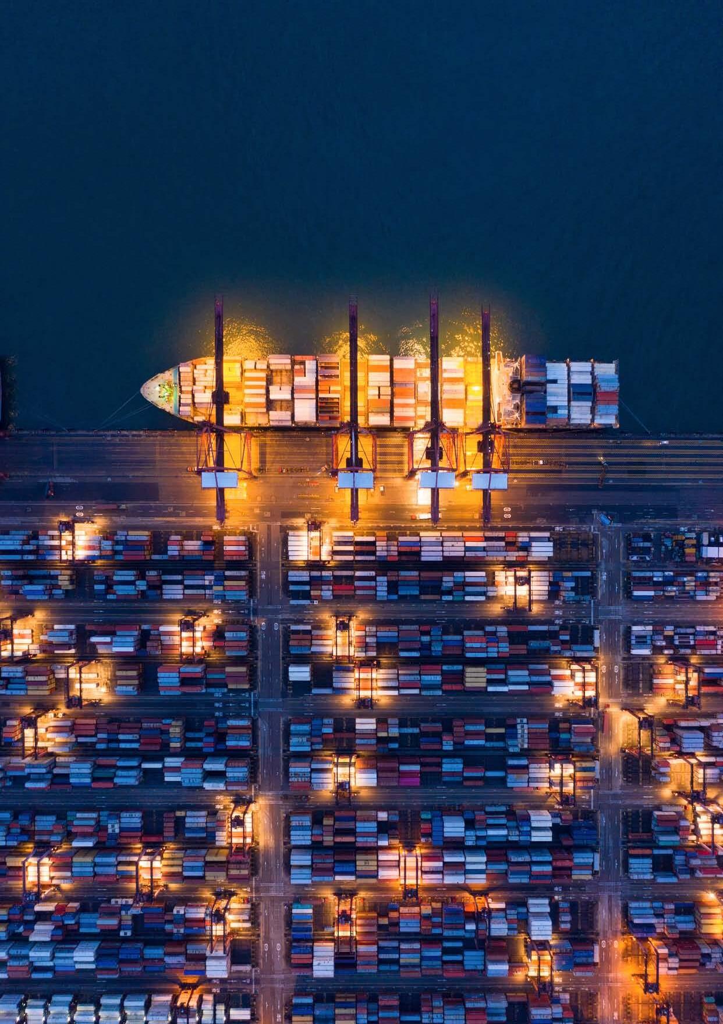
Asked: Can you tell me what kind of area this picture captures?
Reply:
port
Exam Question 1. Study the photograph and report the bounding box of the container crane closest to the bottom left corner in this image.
[23,843,55,903]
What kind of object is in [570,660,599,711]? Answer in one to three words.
container crane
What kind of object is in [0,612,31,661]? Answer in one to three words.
container crane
